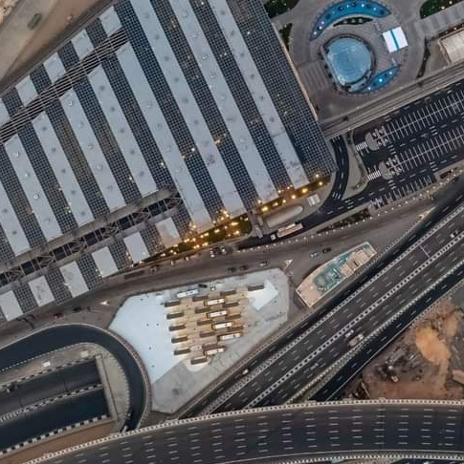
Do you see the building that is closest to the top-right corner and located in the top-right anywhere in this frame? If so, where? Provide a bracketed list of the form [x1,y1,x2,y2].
[325,32,375,86]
